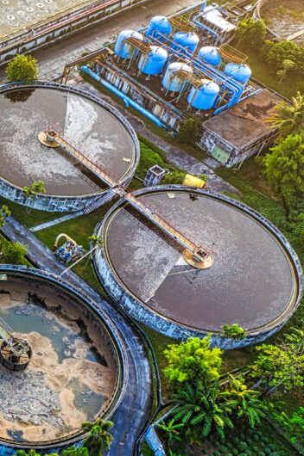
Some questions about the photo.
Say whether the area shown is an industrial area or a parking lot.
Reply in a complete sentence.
This image shows an industrial area.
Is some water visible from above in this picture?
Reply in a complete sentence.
Yes, there is water in the image.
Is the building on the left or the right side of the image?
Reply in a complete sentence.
The building is on the right side of the image.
